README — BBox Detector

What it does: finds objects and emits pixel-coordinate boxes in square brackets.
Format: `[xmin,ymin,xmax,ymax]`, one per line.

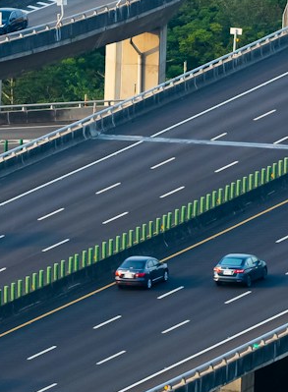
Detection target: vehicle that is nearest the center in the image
[118,254,175,288]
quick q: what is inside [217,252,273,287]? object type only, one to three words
car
